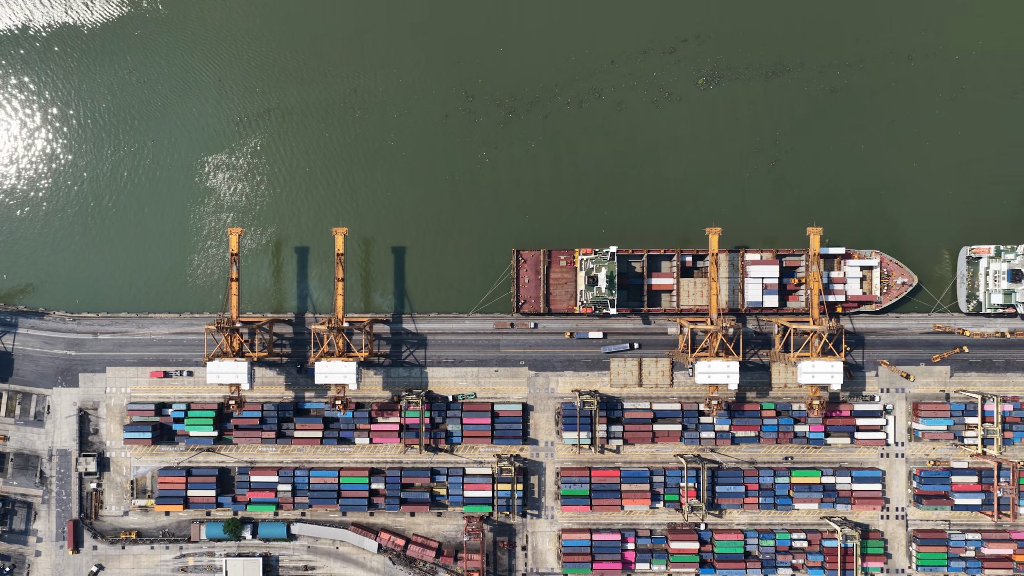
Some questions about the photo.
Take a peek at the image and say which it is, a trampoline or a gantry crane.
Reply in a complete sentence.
I can see a gantry crane in this picture.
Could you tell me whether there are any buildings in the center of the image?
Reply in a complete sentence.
No, no building appears in the center of the image.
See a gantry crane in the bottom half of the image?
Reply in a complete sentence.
Yes, looking in the bottom half of the image, one can make out a gantry crane.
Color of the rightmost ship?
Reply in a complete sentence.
From above, the rightmost ship appears white.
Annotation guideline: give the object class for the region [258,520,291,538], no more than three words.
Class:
shed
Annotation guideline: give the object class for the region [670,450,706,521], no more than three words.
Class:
container crane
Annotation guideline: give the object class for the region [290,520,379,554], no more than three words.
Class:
shed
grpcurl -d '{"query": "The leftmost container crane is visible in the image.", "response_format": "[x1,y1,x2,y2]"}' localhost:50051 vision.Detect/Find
[203,222,293,416]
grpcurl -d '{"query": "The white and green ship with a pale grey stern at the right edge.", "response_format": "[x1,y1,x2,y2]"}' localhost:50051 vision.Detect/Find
[956,244,1024,314]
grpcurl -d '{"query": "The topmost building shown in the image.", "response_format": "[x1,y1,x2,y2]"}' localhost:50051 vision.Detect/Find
[77,450,103,477]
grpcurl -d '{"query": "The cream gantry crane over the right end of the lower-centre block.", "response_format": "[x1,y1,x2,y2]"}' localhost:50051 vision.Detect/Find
[815,513,860,576]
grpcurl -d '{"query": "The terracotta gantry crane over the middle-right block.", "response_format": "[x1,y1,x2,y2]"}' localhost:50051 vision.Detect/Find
[963,450,1016,522]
